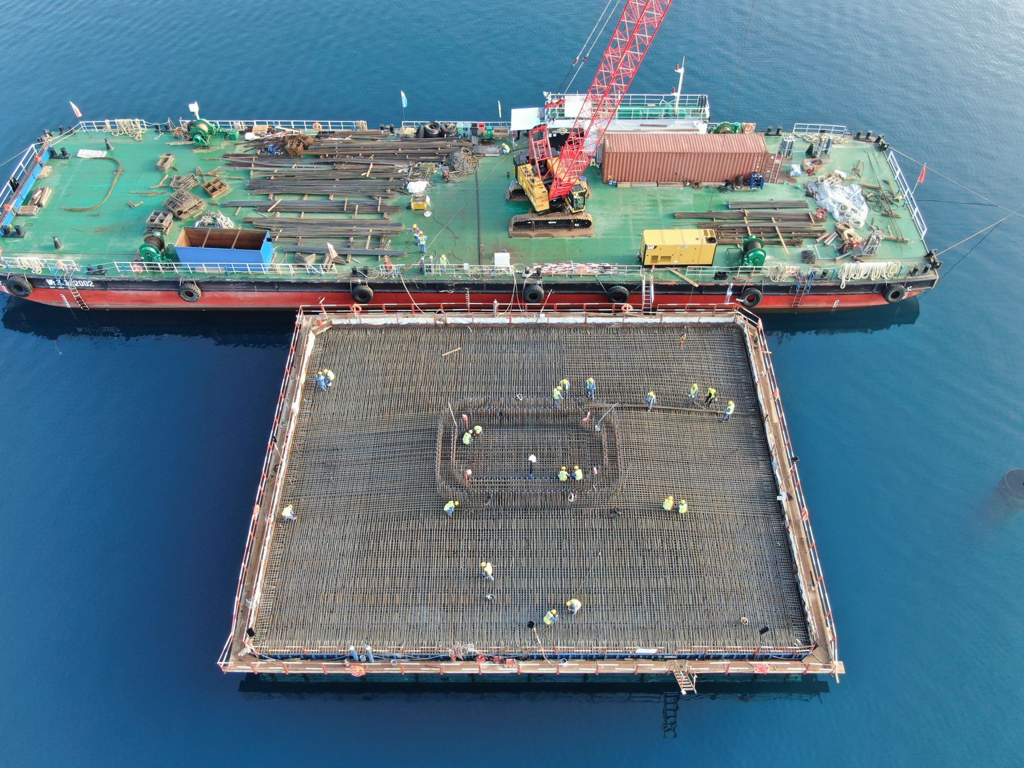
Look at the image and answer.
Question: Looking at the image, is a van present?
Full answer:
No, there is no van in the image.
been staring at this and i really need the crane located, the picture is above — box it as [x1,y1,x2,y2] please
[507,0,747,338]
